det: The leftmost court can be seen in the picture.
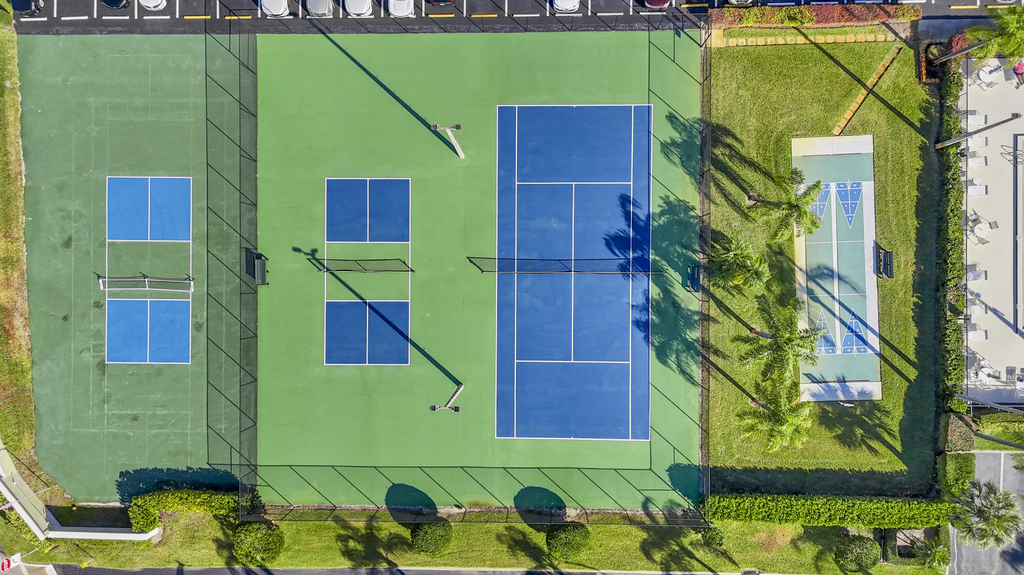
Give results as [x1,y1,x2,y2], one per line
[19,34,257,503]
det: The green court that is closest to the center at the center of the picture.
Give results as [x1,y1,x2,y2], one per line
[257,29,701,509]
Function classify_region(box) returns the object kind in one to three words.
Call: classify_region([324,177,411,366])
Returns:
sports court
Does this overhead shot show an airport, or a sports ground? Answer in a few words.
sports ground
